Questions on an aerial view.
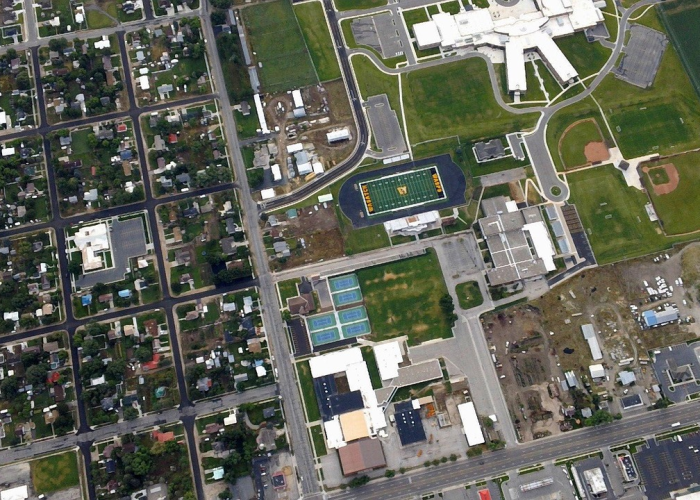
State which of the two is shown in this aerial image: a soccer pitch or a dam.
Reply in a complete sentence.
There is a soccer pitch in the scene.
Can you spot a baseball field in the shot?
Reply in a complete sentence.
Yes, the image includes a baseball field.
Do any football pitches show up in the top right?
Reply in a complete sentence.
Yes, you'll find a football pitch in the top right.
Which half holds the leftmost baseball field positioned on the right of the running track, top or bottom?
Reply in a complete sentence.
It is in the top half that the leftmost baseball field positioned on the right of the running track appears.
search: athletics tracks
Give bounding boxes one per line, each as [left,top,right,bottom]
[340,154,466,228]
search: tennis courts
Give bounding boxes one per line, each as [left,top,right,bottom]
[333,288,363,306]
[307,312,337,332]
[328,273,359,293]
[340,320,371,339]
[311,327,341,346]
[338,305,368,324]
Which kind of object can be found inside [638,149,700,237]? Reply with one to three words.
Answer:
baseball field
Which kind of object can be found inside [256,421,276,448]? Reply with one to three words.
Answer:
house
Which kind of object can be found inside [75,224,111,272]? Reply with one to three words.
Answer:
building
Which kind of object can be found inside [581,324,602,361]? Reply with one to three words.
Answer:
barn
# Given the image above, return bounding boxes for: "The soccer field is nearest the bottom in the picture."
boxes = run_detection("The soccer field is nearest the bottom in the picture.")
[586,200,647,241]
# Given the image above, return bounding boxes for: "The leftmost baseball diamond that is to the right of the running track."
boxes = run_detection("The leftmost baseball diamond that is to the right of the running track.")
[558,117,610,170]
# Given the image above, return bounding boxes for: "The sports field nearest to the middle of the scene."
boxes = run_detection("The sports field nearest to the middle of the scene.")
[355,162,450,220]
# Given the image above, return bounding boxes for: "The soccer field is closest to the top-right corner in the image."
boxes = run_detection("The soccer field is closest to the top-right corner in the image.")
[607,99,699,153]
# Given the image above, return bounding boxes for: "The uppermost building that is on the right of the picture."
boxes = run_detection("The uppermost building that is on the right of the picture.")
[412,0,606,94]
